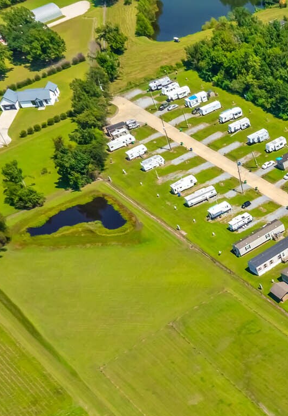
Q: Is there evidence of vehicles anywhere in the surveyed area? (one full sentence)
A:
Yes, I can see a vehicle in this picture.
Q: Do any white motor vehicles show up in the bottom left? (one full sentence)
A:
No, the scene shows no white motor vehicle in the bottom left.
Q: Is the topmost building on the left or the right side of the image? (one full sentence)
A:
The topmost building sits on the left side.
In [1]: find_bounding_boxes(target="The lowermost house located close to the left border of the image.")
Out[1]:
[1,81,66,114]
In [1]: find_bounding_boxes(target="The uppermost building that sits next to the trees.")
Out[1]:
[27,1,65,22]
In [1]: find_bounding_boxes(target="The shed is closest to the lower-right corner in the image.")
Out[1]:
[268,282,288,306]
